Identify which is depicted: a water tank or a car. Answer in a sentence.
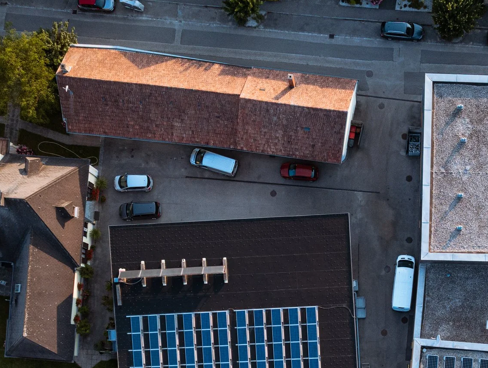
I can see a car in this picture.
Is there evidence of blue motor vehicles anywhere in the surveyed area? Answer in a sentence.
Yes, a blue motor vehicle is visible in the scene.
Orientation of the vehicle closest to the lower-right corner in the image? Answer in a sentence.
The vehicle closest to the lower-right corner is oriented vertically.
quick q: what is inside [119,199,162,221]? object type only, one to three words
car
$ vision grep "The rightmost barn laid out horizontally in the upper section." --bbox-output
[55,42,357,166]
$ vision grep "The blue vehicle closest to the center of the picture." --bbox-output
[189,148,240,177]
